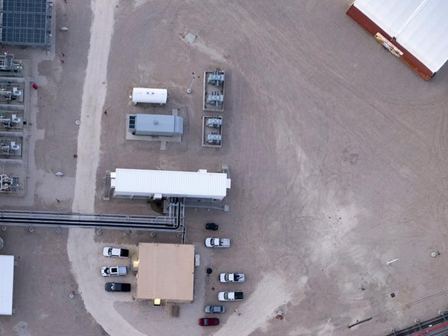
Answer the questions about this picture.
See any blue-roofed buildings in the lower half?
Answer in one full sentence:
No, no blue-roofed building appears in the lower half.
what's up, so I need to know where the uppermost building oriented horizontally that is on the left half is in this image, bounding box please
[104,165,230,212]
